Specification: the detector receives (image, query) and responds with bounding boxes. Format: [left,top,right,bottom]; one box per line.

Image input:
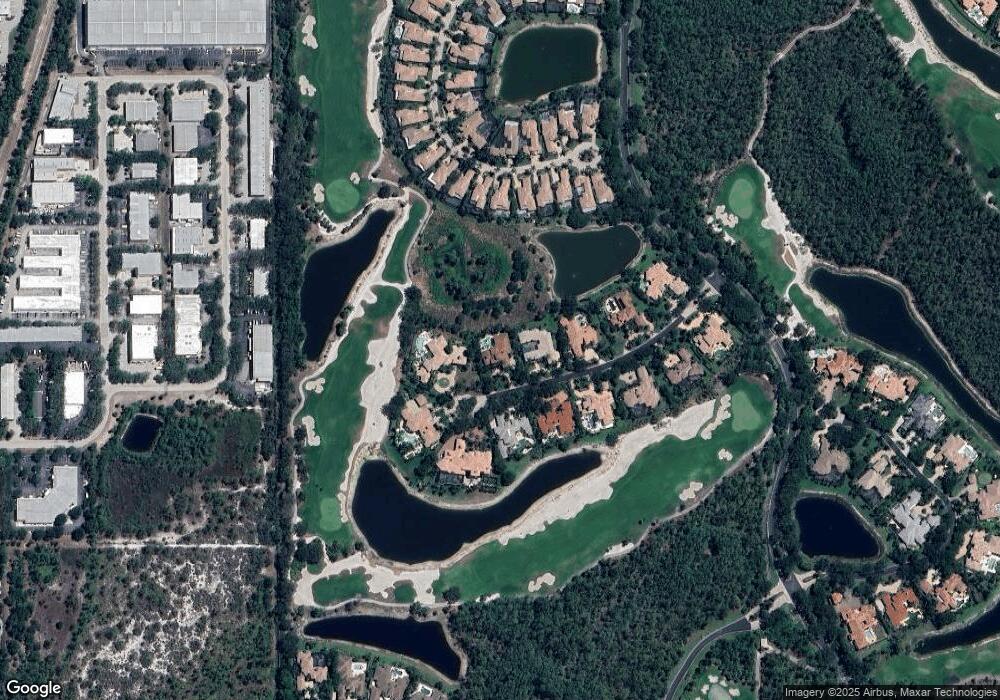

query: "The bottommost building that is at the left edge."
[17,466,78,525]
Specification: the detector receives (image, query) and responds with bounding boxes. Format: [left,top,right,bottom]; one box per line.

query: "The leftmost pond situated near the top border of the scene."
[501,26,598,103]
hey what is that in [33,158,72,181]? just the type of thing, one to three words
building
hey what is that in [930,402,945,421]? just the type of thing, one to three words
swimming pool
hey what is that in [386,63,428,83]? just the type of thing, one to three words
house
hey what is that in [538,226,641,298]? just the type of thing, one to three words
pond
